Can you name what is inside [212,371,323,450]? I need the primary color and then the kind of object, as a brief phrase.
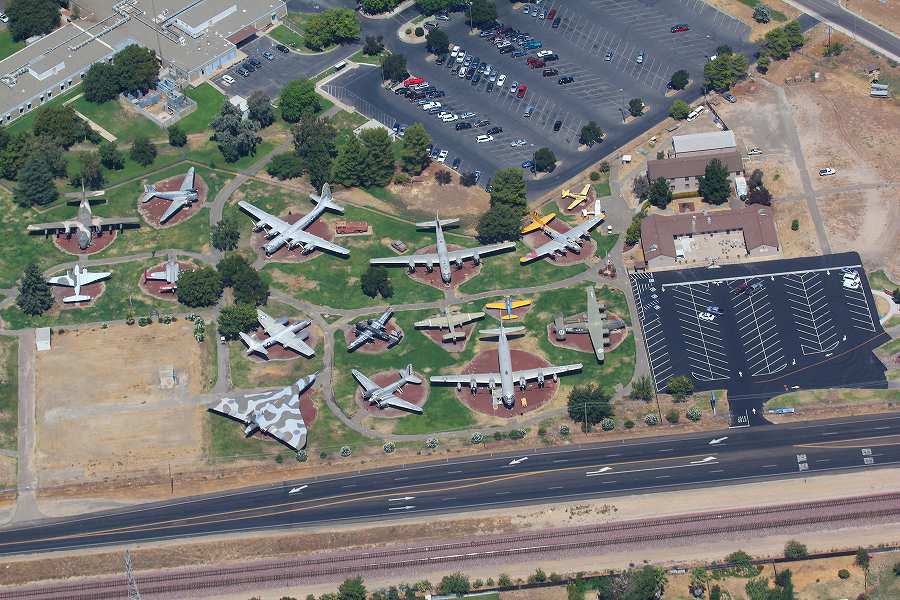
white airplane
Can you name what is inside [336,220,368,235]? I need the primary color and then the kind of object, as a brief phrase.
red vehicle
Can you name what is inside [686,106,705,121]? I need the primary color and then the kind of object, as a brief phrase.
white car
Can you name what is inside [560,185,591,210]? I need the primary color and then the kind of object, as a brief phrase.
yellow airplane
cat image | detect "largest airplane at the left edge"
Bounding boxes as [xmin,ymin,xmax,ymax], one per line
[26,184,139,251]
